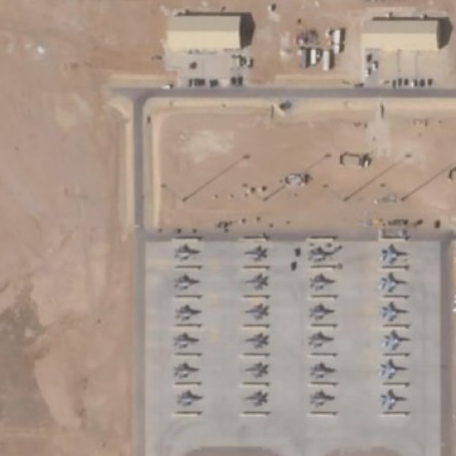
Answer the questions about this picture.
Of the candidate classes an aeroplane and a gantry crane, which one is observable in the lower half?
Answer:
aeroplane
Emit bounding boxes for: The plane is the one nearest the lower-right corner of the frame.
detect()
[376,391,403,408]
